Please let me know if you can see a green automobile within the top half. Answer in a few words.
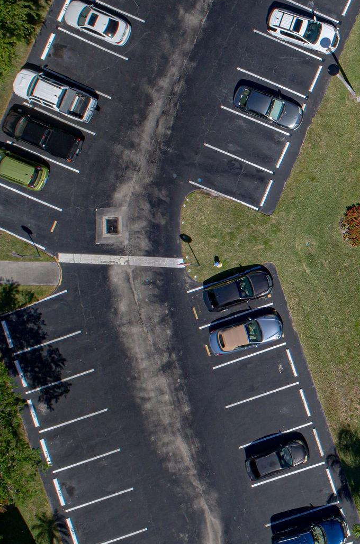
Yes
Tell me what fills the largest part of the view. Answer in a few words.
paved ground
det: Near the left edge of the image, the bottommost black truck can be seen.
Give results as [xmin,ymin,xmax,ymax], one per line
[2,108,86,162]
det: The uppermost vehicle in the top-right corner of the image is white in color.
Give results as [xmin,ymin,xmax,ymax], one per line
[267,6,341,57]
